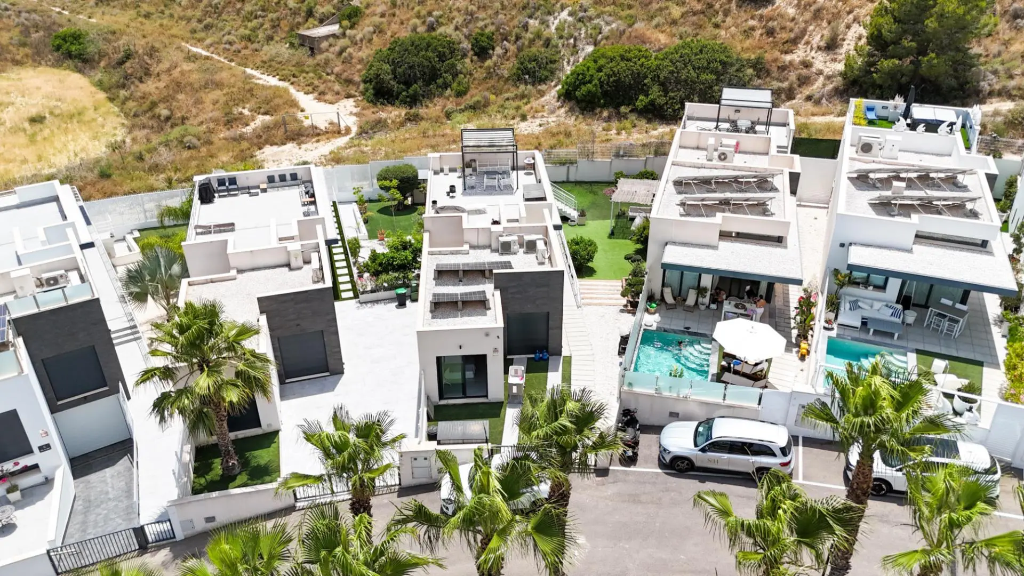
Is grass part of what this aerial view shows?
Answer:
Yes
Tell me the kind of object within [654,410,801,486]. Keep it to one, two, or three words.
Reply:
car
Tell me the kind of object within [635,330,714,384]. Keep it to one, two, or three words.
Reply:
swimming pool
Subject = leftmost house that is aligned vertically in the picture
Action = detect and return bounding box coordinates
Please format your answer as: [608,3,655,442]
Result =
[0,174,134,492]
